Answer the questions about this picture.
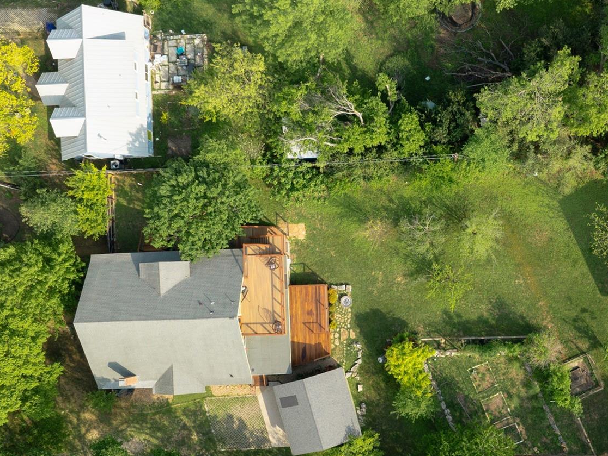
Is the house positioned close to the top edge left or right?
left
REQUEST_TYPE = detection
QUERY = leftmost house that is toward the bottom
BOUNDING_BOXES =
[74,225,296,395]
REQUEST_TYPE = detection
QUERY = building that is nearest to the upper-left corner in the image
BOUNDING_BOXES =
[36,0,161,163]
